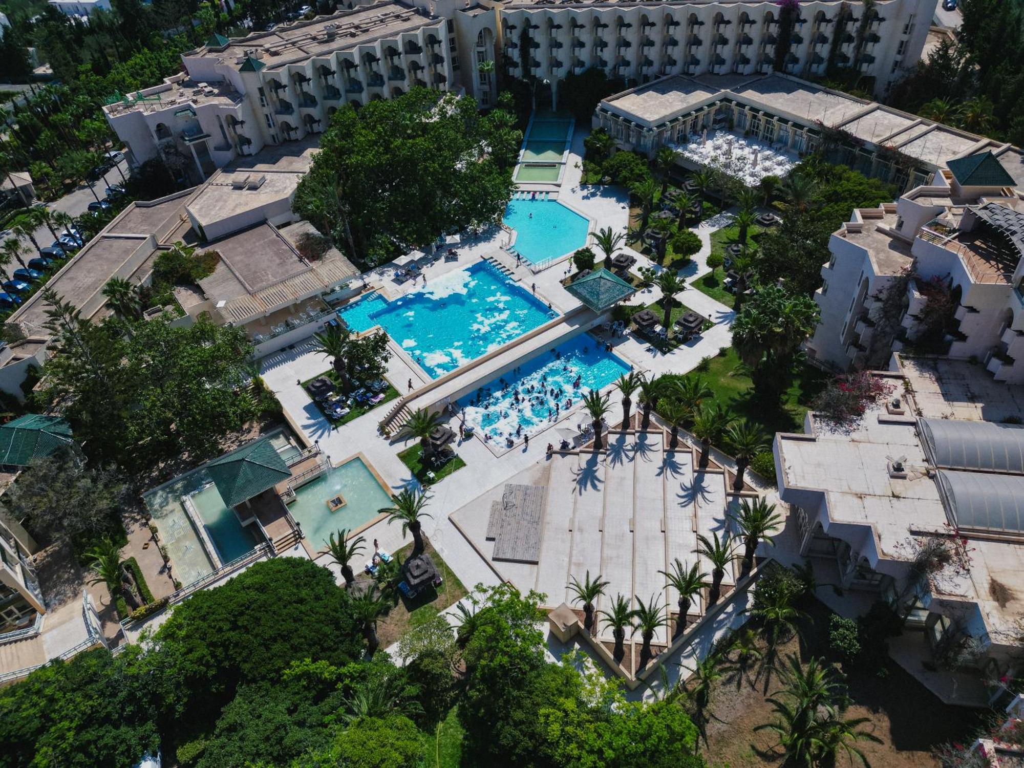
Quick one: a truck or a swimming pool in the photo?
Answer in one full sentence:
It is a swimming pool that can be seen here.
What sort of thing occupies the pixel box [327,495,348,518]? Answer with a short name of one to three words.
fountain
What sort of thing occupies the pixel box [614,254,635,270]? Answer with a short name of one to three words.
umbrella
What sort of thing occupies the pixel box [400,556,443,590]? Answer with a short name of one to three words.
umbrella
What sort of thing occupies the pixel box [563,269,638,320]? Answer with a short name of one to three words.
building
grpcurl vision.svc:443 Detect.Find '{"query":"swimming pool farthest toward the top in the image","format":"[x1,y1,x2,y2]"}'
[502,192,589,264]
